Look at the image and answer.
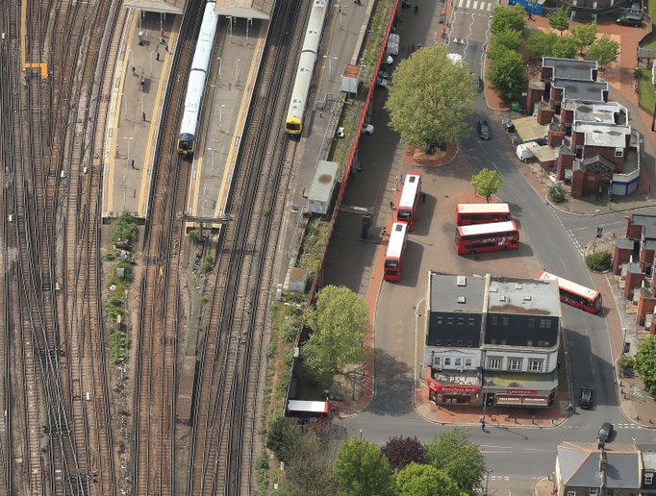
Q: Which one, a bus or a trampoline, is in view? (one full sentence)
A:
This aerial view contains a bus.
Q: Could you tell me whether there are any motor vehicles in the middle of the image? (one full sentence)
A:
Yes, the scene does show a motor vehicle in the middle of the image.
